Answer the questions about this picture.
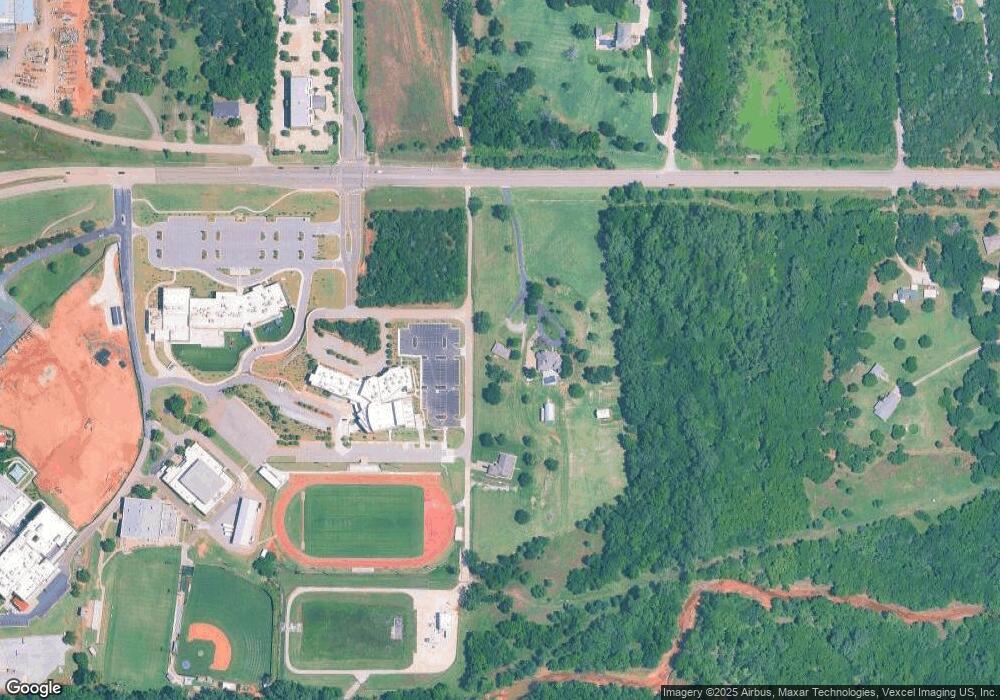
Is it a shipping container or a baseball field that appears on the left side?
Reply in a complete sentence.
The one visible on the left side is a baseball field.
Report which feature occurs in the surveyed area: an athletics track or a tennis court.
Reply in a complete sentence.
The image shows an athletics track.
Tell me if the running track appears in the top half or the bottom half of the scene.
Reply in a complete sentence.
The running track sits in the bottom half of the picture.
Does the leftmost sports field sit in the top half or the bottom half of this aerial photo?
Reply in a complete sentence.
It is in the bottom half that the leftmost sports field appears.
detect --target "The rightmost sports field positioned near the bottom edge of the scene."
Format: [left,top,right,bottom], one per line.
[289,592,416,670]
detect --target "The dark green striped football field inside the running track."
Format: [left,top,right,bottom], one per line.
[284,483,425,558]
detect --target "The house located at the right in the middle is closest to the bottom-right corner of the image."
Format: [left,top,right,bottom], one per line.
[874,386,902,420]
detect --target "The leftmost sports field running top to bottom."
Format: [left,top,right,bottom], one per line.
[104,546,182,690]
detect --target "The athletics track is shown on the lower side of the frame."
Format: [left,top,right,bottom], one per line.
[271,473,457,570]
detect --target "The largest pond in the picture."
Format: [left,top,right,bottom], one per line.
[737,75,794,152]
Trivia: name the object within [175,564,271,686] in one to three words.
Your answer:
baseball field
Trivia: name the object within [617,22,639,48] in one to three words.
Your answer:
house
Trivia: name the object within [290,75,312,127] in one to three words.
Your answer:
building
